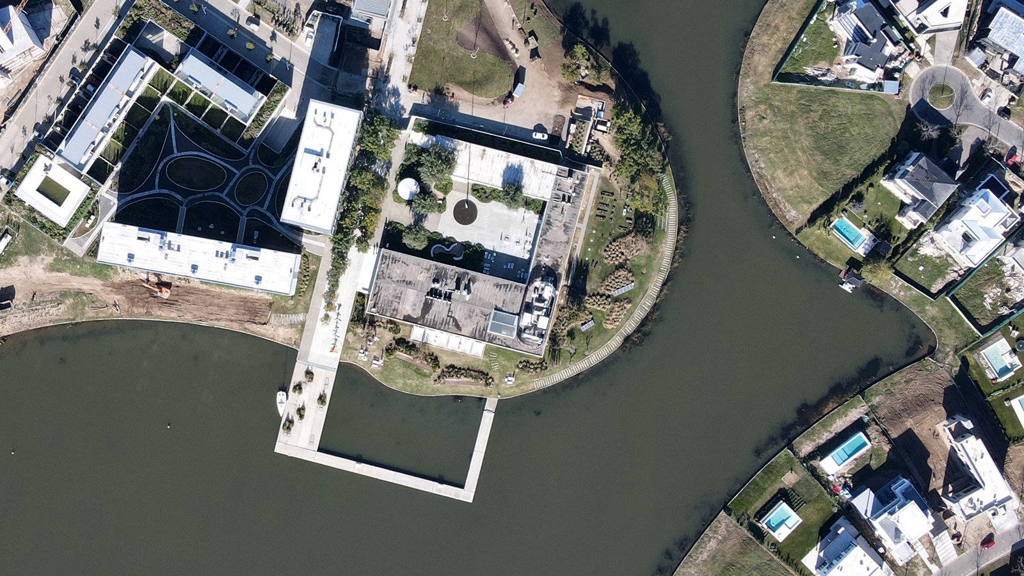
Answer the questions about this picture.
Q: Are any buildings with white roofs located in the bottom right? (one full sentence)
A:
Yes, you'll find a building with a white roof in the bottom right.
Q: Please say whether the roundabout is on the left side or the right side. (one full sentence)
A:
It is on the right.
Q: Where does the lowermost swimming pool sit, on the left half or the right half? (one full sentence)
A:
The lowermost swimming pool is on the right side of the image.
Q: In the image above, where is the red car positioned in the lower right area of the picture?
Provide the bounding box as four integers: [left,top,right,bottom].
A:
[980,537,997,549]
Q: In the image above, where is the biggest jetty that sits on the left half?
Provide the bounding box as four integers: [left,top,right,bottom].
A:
[274,365,494,503]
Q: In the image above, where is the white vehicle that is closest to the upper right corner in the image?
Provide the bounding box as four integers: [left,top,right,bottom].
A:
[979,91,994,108]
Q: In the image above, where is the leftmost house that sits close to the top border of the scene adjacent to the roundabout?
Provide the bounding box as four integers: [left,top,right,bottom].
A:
[829,0,900,94]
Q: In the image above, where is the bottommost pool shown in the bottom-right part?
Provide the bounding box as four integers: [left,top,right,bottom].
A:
[762,502,802,542]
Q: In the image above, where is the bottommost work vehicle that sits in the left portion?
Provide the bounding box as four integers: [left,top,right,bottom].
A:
[136,279,175,301]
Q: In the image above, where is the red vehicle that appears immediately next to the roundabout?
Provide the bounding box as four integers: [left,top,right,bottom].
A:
[1004,153,1019,167]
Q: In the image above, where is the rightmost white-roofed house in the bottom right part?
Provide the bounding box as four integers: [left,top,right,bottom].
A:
[939,413,1013,521]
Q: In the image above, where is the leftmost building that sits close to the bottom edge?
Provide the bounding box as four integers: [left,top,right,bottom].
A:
[801,514,897,576]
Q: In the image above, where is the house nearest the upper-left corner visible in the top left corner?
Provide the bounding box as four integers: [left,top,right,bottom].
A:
[0,6,46,94]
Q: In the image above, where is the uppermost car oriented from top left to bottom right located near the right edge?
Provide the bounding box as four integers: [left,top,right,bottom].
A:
[996,107,1013,120]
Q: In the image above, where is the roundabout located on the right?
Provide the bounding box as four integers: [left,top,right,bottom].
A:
[909,64,1024,153]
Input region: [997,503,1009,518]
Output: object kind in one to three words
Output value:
vehicle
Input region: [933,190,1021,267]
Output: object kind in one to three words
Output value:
house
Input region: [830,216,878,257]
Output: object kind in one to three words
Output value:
swimming pool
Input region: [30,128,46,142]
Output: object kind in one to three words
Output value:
vehicle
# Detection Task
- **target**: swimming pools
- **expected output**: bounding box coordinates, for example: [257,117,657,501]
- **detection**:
[830,216,878,257]
[1010,393,1024,427]
[762,502,802,542]
[819,432,871,475]
[973,332,1022,382]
